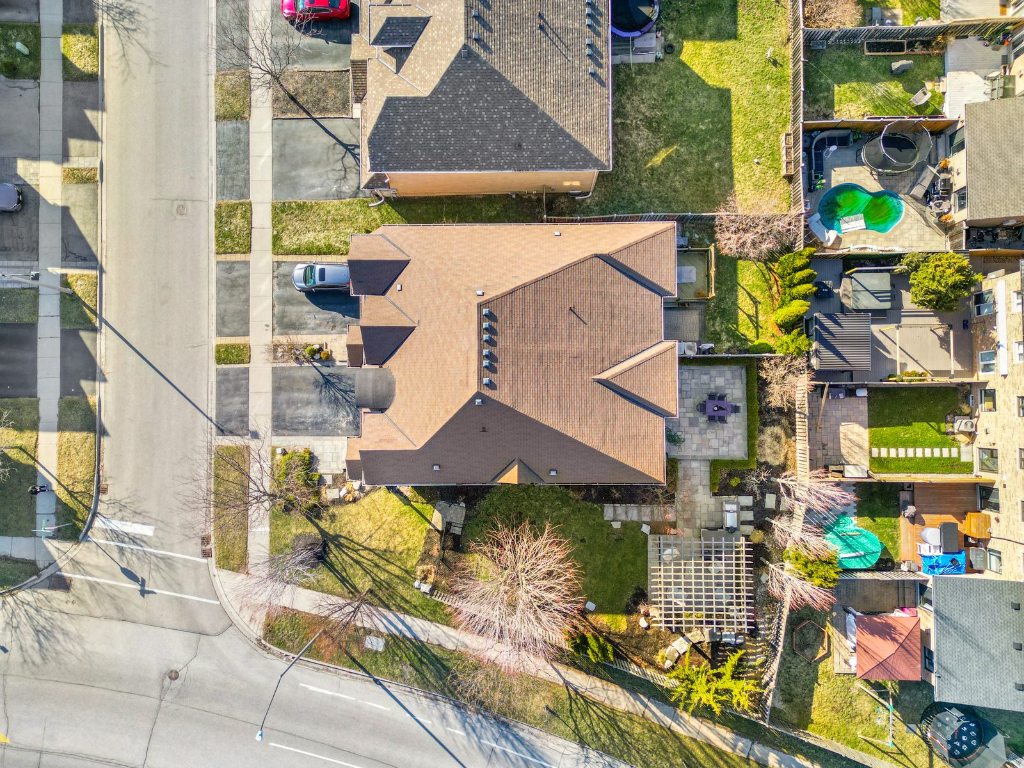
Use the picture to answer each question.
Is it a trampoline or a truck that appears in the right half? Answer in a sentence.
The one visible in the right half is a trampoline.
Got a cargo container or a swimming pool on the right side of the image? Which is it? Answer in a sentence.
Visible on the right side of the image is a swimming pool.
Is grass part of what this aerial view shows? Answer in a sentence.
Yes, some grass is visible.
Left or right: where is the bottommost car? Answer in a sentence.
You can find the bottommost car on the left side of the picture.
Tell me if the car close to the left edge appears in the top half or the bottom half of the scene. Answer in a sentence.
The car close to the left edge sits in the top half of the picture.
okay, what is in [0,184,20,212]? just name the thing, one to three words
car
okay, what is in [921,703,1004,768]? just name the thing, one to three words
trampoline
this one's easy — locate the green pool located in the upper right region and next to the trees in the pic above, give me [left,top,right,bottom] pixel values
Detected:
[812,176,909,240]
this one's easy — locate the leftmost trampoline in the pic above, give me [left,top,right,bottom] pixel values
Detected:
[611,0,659,40]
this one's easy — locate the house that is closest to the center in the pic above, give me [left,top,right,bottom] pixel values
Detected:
[345,221,679,486]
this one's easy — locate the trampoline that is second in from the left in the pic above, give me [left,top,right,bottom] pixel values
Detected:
[856,124,932,176]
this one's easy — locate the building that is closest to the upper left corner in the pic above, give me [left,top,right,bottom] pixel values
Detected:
[349,0,611,205]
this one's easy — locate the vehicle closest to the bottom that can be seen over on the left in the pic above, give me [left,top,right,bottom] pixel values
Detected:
[291,263,351,294]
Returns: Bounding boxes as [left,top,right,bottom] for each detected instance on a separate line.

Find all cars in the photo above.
[283,0,349,26]
[0,184,20,212]
[291,263,351,294]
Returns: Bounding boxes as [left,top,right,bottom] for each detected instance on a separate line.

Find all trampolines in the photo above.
[856,124,932,176]
[611,0,659,40]
[921,703,1004,768]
